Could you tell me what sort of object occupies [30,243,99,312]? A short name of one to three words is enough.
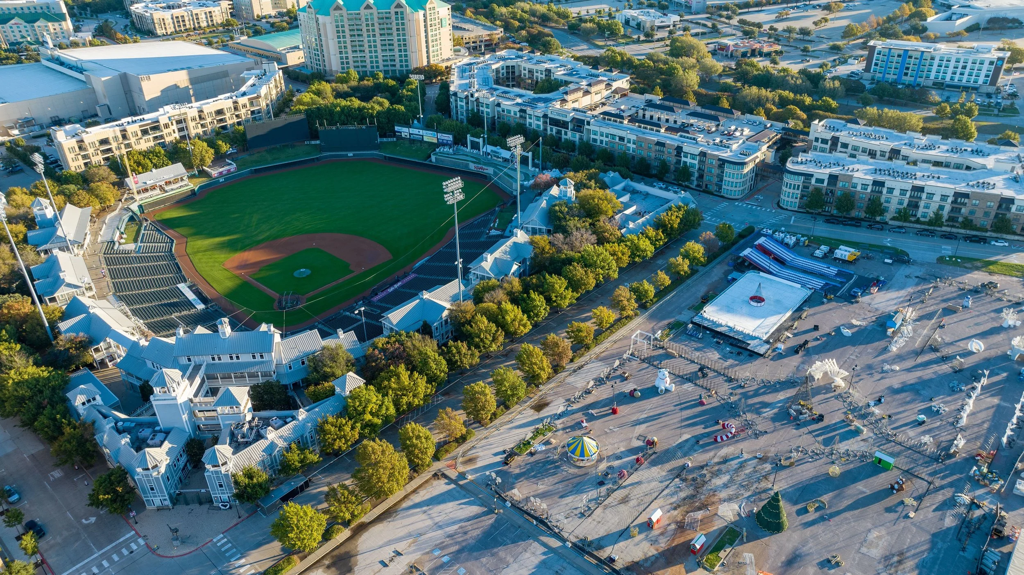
building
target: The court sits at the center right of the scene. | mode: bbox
[690,268,815,352]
